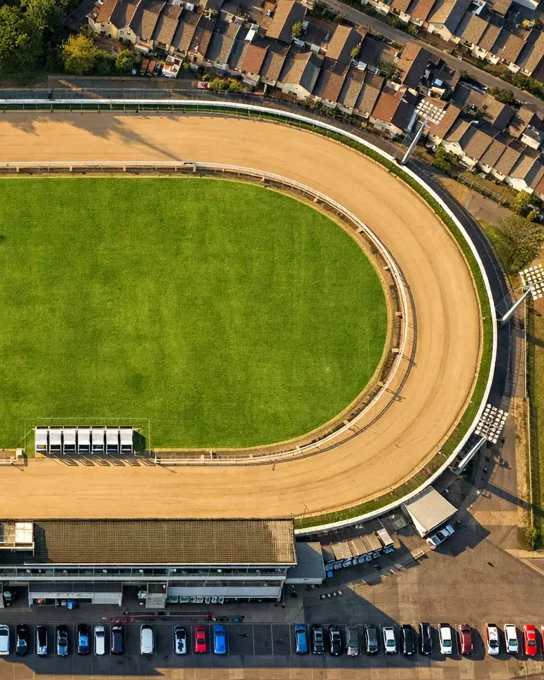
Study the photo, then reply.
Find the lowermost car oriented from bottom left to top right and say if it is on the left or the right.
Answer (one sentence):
It is on the right.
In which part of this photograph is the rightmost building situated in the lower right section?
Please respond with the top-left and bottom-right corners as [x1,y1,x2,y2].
[400,486,457,535]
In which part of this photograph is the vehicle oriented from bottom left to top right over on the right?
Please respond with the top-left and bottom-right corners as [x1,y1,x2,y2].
[425,525,455,550]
